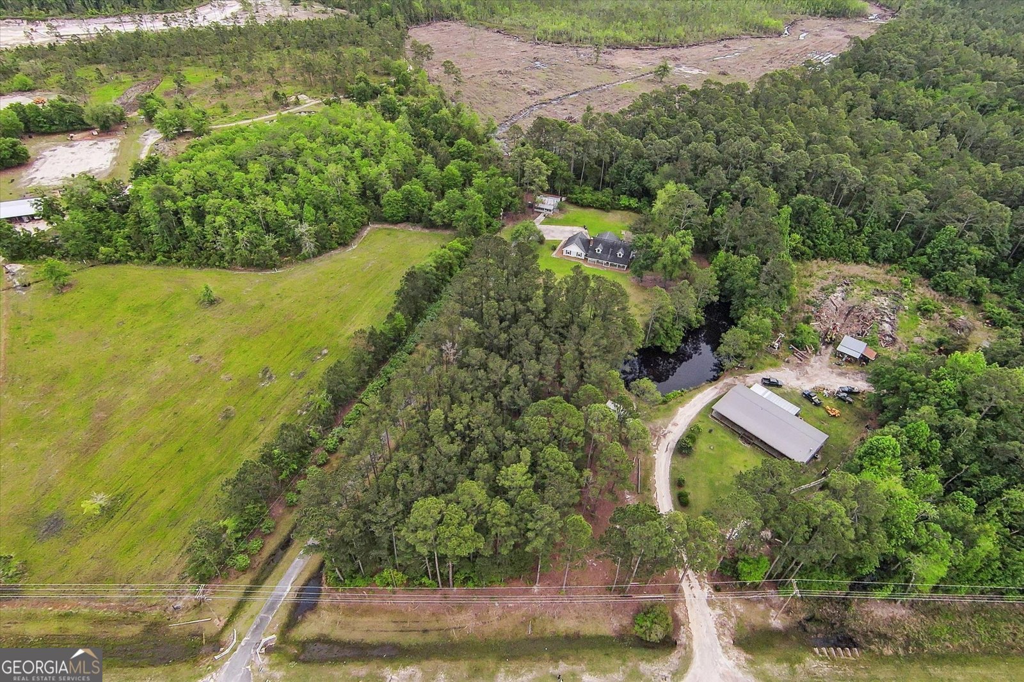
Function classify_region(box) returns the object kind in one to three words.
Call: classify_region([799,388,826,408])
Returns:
vehicle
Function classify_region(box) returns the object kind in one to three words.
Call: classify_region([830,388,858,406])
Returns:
vehicle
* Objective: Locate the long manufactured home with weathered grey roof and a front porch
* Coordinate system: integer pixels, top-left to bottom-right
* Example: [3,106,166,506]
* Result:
[710,384,825,465]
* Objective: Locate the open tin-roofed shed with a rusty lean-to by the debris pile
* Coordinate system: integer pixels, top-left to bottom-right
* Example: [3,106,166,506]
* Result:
[833,334,878,367]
